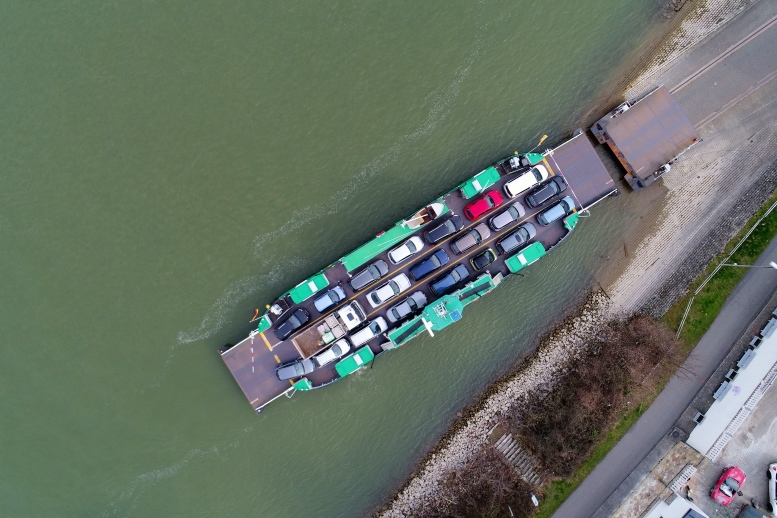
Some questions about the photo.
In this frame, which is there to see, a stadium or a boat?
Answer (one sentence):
Of the two, only a boat appears.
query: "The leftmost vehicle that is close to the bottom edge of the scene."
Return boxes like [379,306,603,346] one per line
[709,464,746,505]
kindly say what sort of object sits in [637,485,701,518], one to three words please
building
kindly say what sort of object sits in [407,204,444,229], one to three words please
boat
